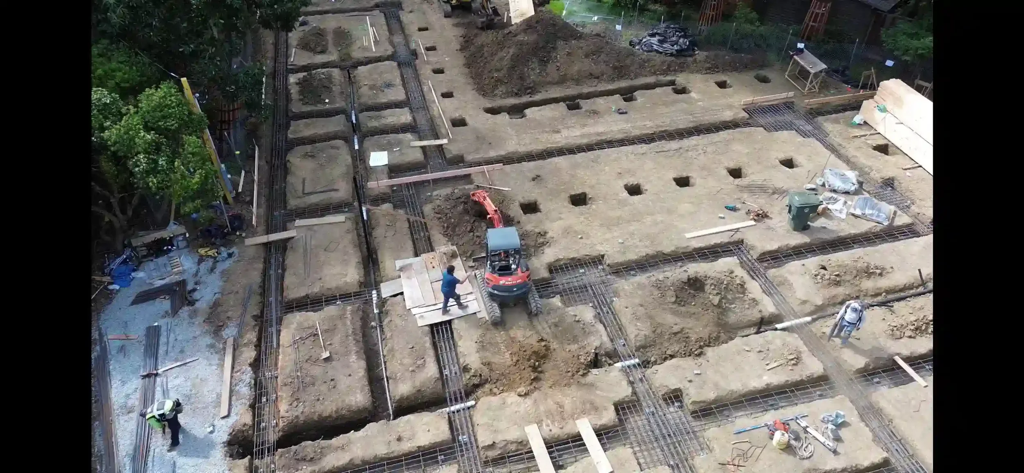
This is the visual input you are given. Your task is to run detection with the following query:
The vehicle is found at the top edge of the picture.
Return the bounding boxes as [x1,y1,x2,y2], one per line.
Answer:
[438,0,498,35]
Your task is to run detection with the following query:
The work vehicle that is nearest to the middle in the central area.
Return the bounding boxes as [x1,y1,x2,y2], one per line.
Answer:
[470,187,543,320]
